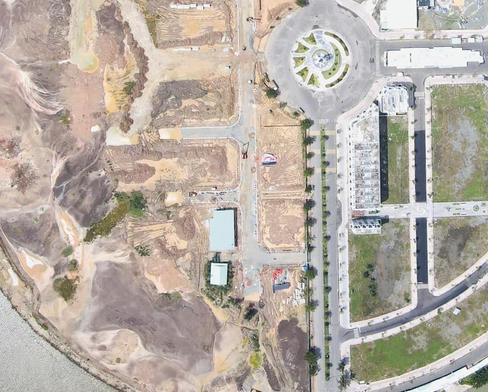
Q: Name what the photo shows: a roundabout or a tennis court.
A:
roundabout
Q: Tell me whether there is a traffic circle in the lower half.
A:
No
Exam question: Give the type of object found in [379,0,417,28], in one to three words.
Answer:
building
